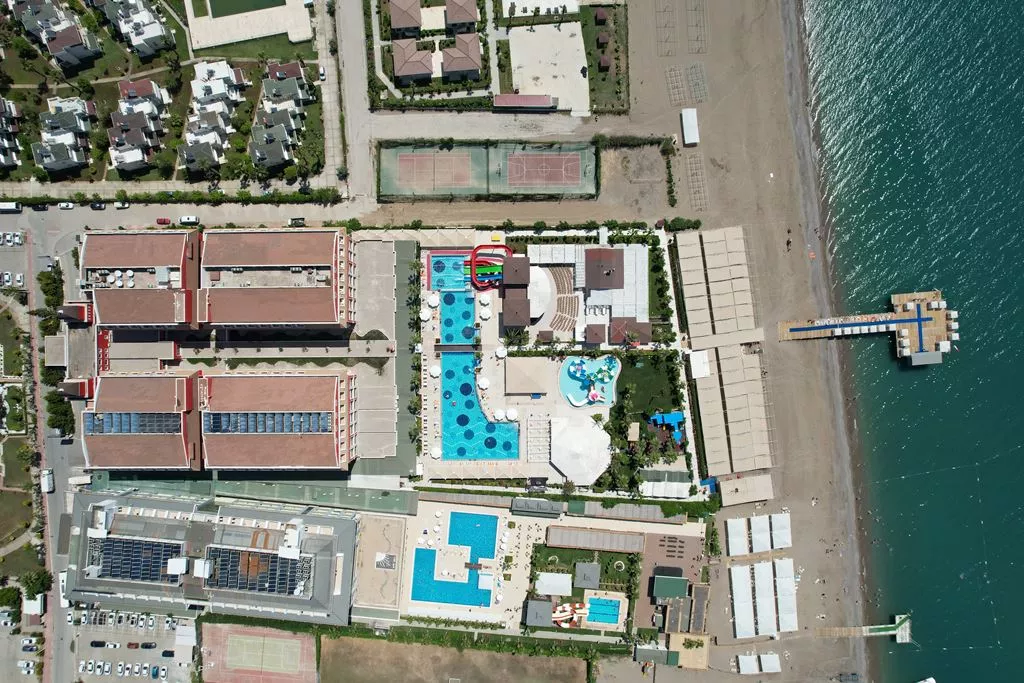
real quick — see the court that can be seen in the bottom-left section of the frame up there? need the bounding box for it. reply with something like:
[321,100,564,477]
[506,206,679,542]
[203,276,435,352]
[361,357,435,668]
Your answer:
[202,624,317,683]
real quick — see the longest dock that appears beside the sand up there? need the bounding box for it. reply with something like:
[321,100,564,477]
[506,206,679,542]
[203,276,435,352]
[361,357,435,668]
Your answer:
[779,291,949,357]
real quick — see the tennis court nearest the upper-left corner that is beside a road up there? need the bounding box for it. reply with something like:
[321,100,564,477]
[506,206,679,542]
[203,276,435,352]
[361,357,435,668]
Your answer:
[381,147,487,195]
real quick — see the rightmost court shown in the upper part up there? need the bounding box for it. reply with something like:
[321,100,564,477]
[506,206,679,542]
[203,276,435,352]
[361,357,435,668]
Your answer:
[488,147,596,195]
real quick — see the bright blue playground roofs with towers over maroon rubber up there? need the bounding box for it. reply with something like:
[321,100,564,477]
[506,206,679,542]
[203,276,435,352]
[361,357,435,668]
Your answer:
[651,411,684,451]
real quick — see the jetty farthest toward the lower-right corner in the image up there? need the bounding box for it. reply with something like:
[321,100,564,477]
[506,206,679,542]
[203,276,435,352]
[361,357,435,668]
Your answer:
[815,614,921,648]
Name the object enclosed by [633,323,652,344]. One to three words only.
building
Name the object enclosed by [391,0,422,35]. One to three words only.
house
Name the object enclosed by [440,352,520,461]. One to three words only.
swimming pool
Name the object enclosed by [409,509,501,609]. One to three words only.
swimming pool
